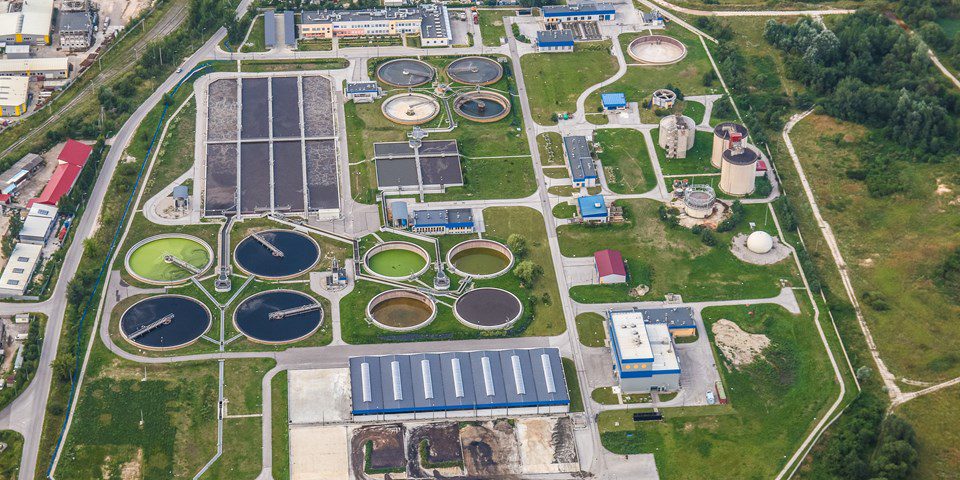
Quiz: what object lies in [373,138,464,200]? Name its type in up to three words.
storage tank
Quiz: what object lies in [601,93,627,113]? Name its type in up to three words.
shed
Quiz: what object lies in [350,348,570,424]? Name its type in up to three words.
building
